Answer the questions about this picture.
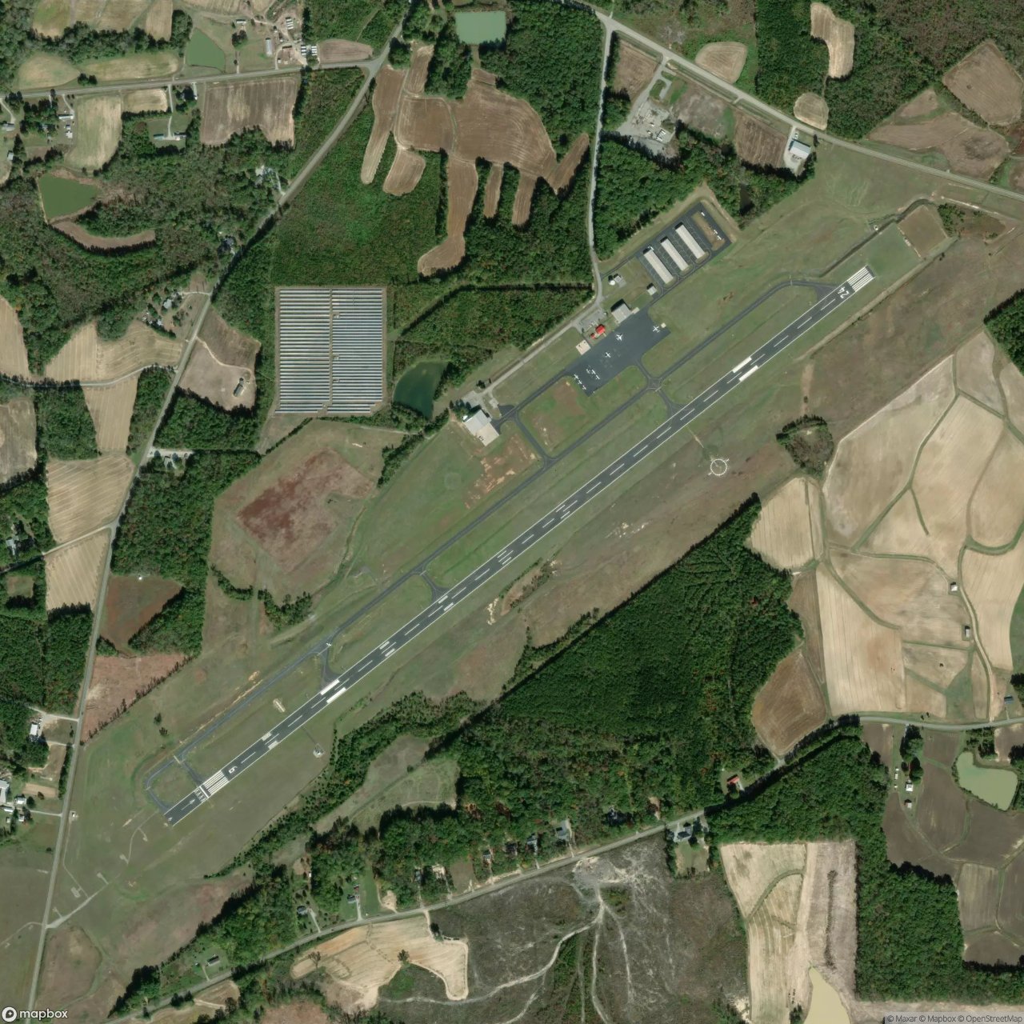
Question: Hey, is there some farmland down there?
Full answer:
Yes, farmland can be seen from above here.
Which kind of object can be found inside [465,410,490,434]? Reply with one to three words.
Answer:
hangar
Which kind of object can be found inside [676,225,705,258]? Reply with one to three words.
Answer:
hangar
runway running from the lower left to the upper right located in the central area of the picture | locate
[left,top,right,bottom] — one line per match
[164,264,877,826]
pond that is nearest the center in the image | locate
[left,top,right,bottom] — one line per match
[392,361,447,418]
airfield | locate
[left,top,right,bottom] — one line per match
[147,203,877,826]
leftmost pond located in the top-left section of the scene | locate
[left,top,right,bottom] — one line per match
[38,175,98,218]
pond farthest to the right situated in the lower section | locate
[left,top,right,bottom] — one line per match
[957,752,1016,809]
